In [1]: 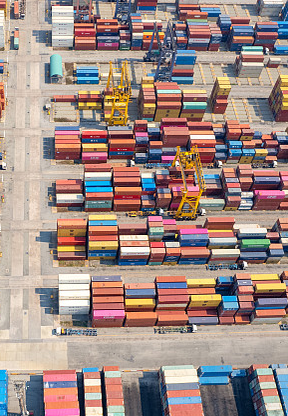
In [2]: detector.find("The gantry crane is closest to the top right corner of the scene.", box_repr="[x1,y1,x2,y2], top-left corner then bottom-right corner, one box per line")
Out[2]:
[140,25,181,82]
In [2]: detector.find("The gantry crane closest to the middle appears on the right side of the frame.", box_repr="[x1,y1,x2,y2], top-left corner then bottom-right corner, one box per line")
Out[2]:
[169,146,214,222]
